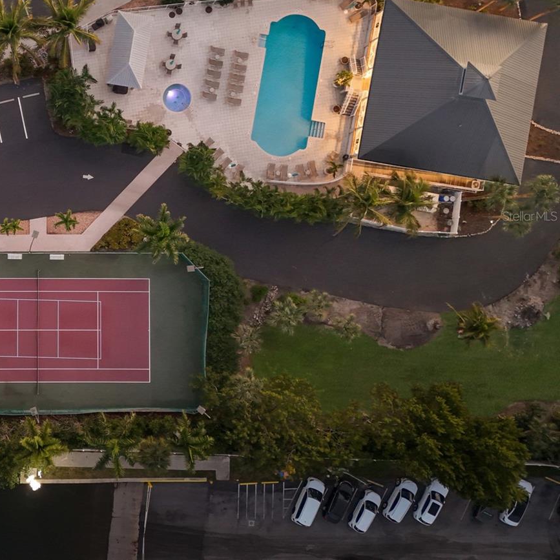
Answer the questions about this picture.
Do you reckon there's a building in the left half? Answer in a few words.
Yes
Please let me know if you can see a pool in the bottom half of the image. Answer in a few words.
No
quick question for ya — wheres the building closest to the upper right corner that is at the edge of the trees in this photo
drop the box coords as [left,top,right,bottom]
[349,0,548,193]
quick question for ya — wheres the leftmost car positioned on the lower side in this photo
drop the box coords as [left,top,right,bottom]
[292,481,325,528]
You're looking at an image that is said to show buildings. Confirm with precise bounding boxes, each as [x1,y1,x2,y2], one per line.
[107,12,154,90]
[349,0,548,193]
